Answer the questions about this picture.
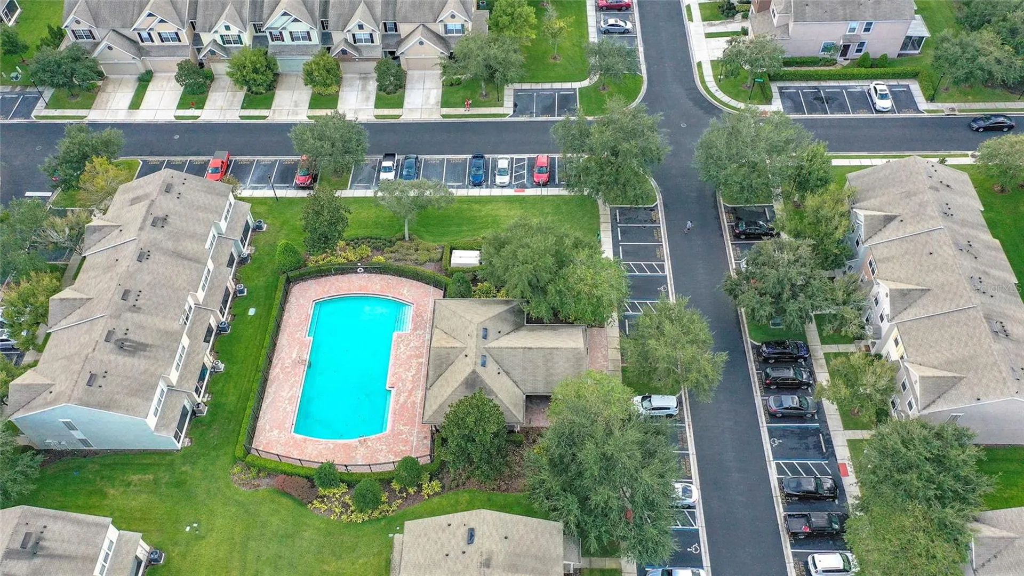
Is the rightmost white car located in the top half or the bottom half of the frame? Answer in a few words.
top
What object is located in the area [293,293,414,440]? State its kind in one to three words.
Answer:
swimming pool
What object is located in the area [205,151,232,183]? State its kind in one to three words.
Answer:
truck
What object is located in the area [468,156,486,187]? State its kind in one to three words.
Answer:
car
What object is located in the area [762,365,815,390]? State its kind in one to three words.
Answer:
car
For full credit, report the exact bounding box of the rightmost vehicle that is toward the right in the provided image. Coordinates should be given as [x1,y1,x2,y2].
[970,115,1015,133]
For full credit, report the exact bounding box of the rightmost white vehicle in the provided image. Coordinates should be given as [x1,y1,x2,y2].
[866,85,892,113]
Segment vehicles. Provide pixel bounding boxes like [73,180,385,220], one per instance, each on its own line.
[400,154,420,180]
[758,340,810,364]
[598,0,631,13]
[732,221,779,241]
[778,512,847,541]
[493,158,511,188]
[643,561,707,576]
[762,365,815,390]
[764,394,819,419]
[800,549,862,576]
[468,156,486,187]
[662,486,702,509]
[294,158,314,190]
[533,155,551,186]
[777,474,841,503]
[633,395,681,420]
[599,20,633,35]
[970,115,1015,133]
[866,85,892,113]
[205,151,232,183]
[378,153,399,186]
